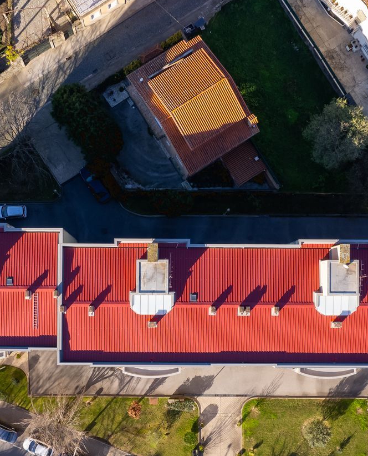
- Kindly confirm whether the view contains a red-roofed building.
Yes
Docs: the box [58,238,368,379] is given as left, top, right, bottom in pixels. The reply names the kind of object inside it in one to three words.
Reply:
building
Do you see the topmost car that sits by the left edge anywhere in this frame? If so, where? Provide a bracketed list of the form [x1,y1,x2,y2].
[0,202,31,222]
